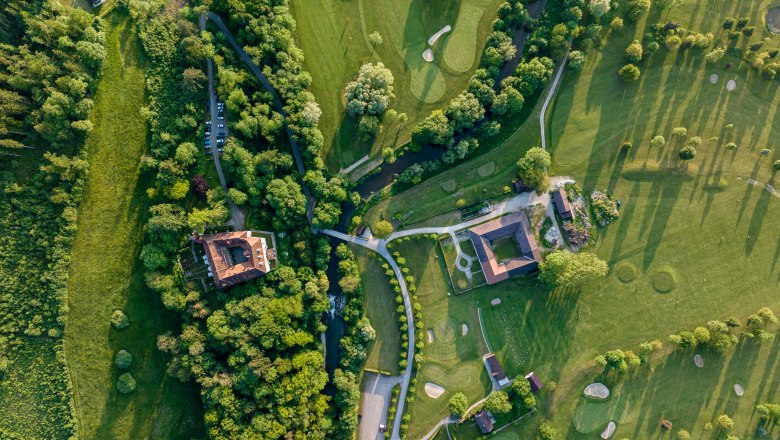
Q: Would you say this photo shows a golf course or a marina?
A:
golf course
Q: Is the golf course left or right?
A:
right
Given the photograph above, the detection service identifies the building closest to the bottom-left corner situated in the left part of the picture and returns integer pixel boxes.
[190,231,277,288]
